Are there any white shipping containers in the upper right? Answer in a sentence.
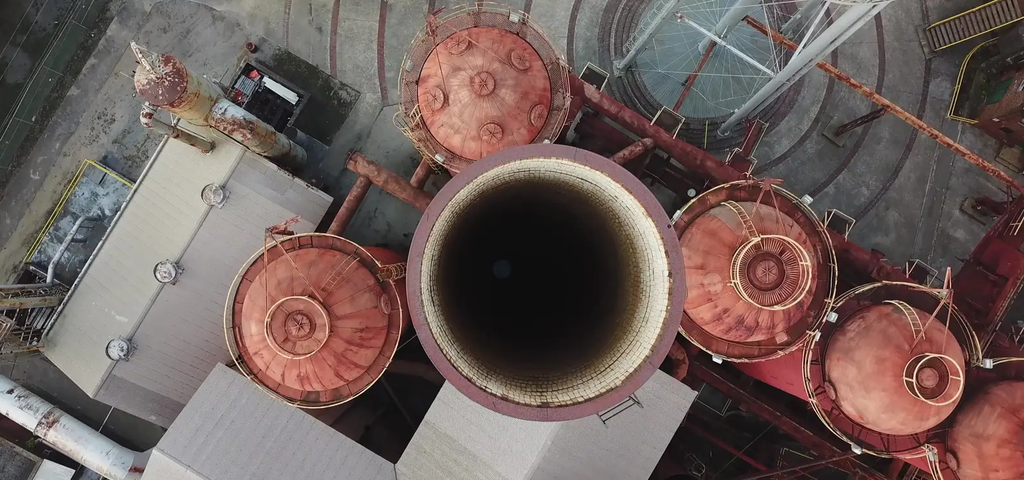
No, in the upper right there is no white shipping container.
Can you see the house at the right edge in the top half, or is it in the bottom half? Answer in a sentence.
The house at the right edge is in the top half of the image.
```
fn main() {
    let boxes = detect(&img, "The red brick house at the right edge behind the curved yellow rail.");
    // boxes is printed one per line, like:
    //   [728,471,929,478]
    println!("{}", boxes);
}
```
[975,67,1024,145]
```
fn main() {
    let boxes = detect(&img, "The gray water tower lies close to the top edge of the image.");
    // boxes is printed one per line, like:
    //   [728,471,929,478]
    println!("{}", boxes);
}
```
[607,0,871,141]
